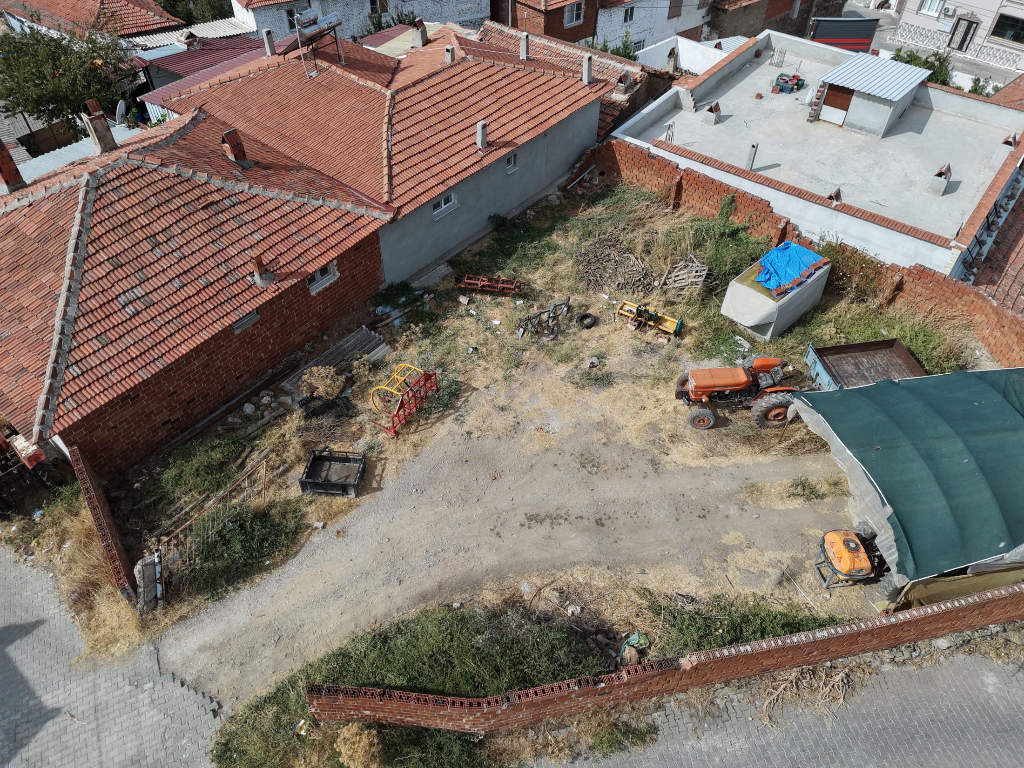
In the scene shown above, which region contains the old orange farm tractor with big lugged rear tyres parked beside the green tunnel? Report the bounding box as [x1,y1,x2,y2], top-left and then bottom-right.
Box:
[674,352,807,430]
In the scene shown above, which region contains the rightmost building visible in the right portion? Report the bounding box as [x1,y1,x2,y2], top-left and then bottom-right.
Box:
[957,196,1024,323]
